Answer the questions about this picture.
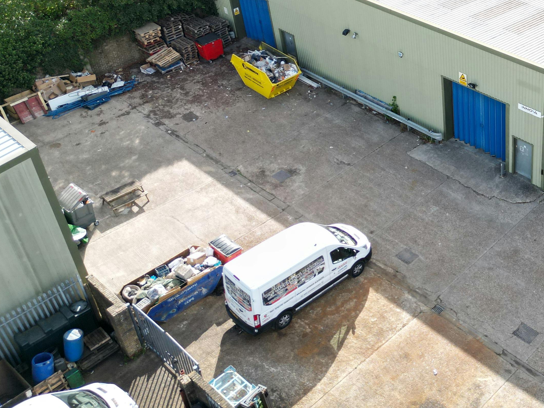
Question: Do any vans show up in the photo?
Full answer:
Yes, the image includes a van.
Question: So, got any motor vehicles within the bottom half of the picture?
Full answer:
Yes, a motor vehicle is visible within the bottom half of the picture.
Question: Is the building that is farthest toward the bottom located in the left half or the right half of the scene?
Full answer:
The building that is farthest toward the bottom is on the left side of the image.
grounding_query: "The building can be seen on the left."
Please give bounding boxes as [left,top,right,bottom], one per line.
[0,113,90,326]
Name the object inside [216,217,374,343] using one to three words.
van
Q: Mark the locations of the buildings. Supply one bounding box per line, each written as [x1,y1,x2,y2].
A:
[0,113,90,326]
[224,0,544,190]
